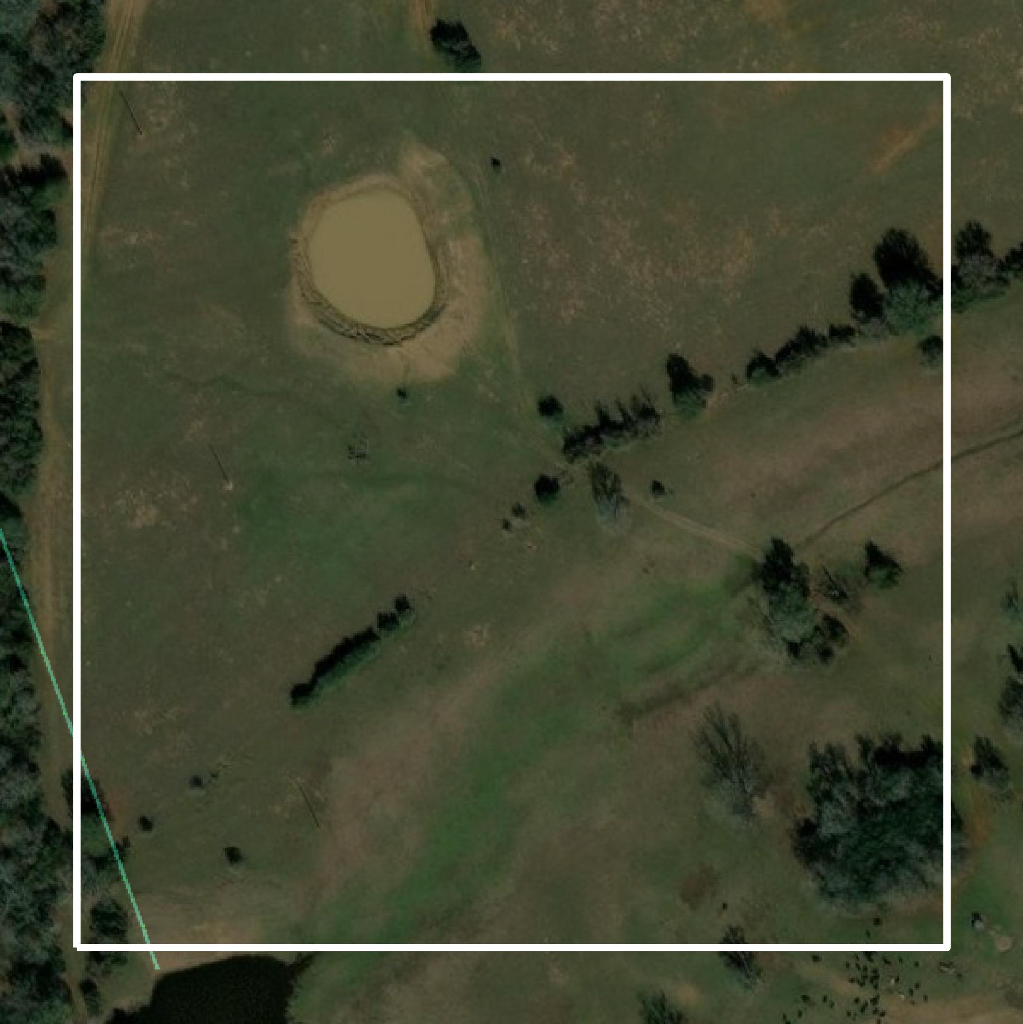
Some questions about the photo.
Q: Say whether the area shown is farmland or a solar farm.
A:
farmland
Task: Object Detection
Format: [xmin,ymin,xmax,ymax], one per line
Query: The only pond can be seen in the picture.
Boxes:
[307,190,437,330]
